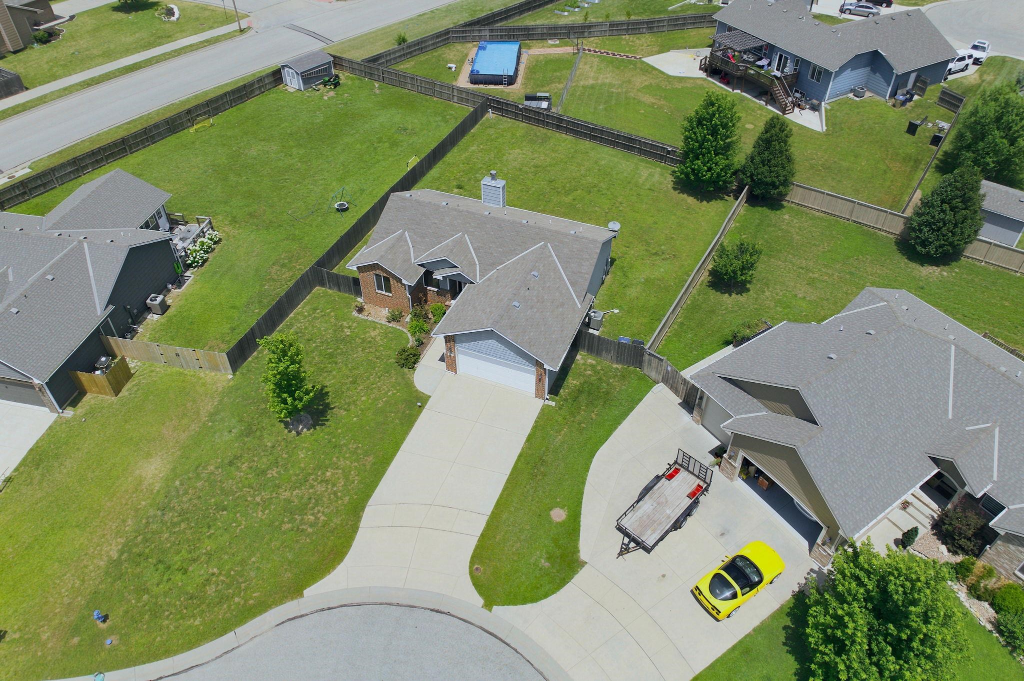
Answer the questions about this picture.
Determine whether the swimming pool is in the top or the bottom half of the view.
top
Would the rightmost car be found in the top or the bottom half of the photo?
top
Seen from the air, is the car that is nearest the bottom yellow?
Yes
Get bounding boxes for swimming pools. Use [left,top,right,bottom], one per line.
[468,39,522,85]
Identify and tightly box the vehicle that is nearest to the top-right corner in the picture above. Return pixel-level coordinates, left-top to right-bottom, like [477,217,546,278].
[948,49,978,75]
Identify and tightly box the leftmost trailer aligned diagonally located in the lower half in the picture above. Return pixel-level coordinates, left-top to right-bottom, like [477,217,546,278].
[616,449,715,570]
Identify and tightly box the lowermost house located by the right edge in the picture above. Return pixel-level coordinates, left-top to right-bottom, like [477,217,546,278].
[688,287,1024,598]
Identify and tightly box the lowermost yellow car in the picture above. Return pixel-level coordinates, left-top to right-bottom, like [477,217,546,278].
[696,541,788,617]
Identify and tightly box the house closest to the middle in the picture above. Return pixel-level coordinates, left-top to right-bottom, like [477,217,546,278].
[345,171,618,404]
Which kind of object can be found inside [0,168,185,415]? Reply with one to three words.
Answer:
house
